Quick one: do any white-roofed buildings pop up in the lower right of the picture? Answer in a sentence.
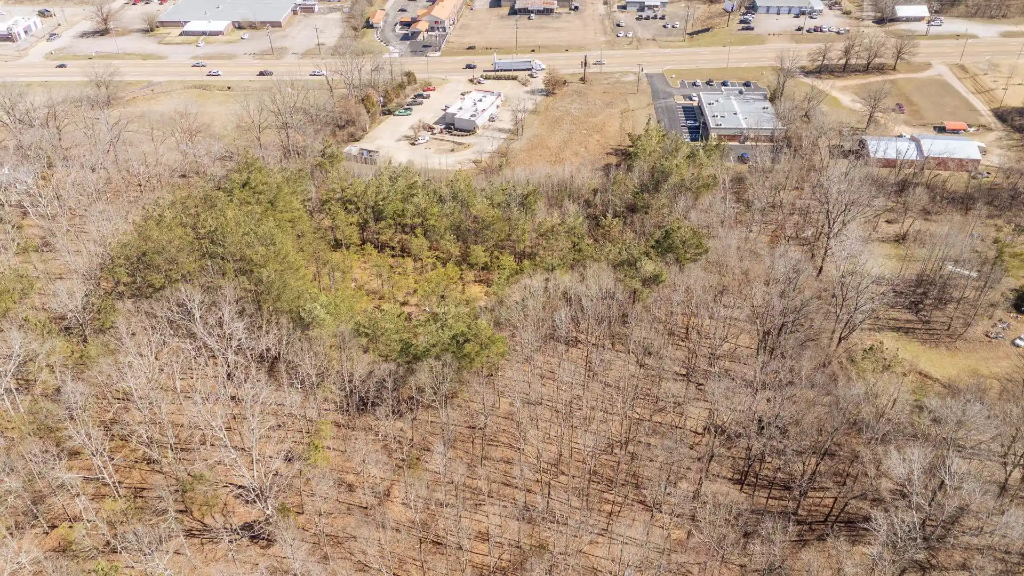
No, in the lower right of the picture there is no white-roofed building.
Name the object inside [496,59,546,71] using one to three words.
vehicle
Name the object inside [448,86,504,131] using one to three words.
building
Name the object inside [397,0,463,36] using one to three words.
building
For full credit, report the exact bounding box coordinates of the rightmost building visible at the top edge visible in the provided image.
[884,2,933,22]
